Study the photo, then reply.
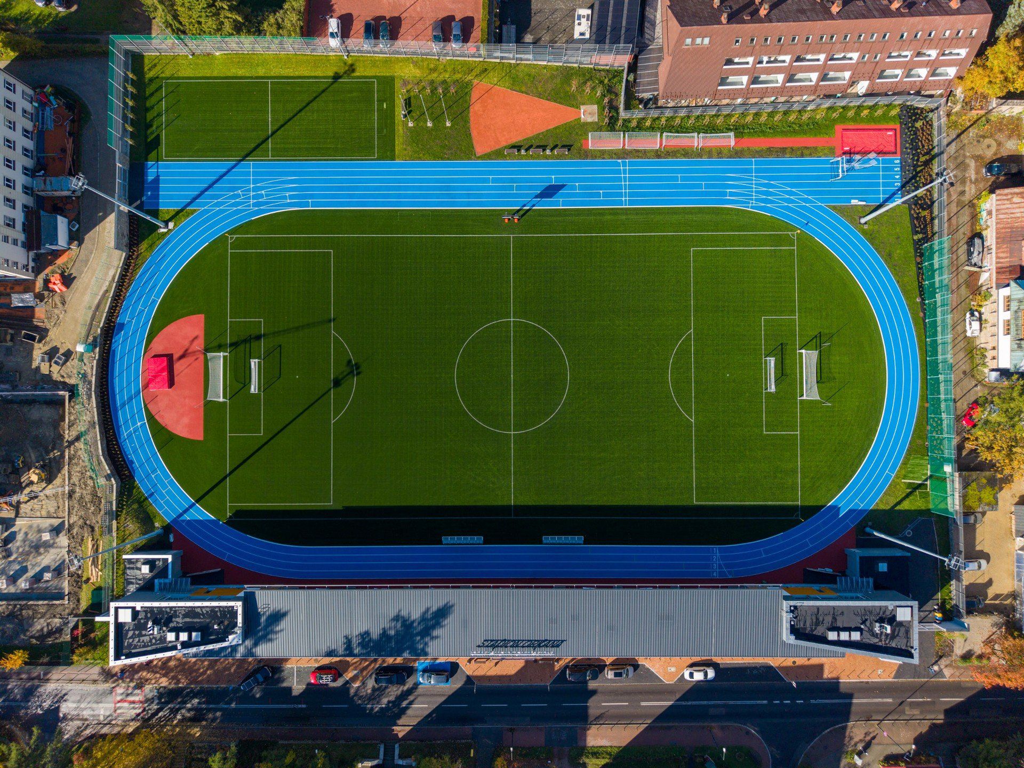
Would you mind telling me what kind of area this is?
sports ground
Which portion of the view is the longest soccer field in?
center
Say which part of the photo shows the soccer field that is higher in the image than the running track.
top left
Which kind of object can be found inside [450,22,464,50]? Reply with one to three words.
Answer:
car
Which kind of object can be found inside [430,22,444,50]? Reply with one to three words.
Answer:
car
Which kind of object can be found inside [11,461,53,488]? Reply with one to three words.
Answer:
work vehicle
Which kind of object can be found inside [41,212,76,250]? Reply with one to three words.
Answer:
shed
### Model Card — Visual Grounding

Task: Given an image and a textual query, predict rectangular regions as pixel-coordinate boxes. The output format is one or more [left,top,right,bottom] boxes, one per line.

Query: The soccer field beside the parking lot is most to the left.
[142,75,396,161]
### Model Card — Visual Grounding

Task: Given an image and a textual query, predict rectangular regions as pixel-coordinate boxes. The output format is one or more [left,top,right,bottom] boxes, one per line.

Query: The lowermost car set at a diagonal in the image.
[241,665,271,690]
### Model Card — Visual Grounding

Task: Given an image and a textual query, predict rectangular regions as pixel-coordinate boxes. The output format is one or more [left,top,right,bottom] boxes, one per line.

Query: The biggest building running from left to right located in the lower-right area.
[761,571,918,663]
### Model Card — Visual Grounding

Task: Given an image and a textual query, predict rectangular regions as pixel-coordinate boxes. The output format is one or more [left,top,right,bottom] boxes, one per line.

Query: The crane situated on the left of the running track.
[0,486,70,527]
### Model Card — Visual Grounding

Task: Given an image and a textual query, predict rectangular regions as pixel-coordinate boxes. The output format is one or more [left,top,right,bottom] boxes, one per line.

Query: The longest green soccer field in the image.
[141,206,887,546]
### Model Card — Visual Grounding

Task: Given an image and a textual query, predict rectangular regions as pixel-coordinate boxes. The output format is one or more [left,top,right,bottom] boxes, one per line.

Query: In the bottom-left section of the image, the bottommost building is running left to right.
[110,573,268,665]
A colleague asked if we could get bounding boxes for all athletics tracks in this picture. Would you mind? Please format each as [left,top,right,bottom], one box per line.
[109,157,920,579]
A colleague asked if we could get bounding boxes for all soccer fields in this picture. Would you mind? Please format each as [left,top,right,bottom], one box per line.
[141,206,887,546]
[142,75,396,161]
